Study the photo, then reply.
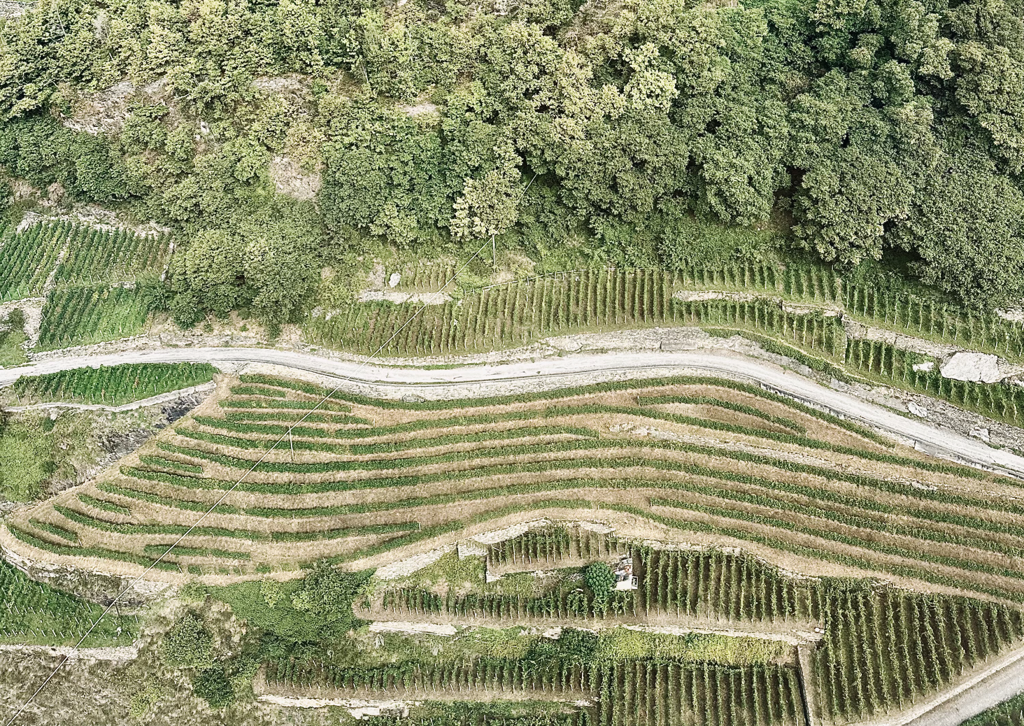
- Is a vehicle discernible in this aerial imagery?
No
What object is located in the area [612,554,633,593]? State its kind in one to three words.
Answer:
shed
